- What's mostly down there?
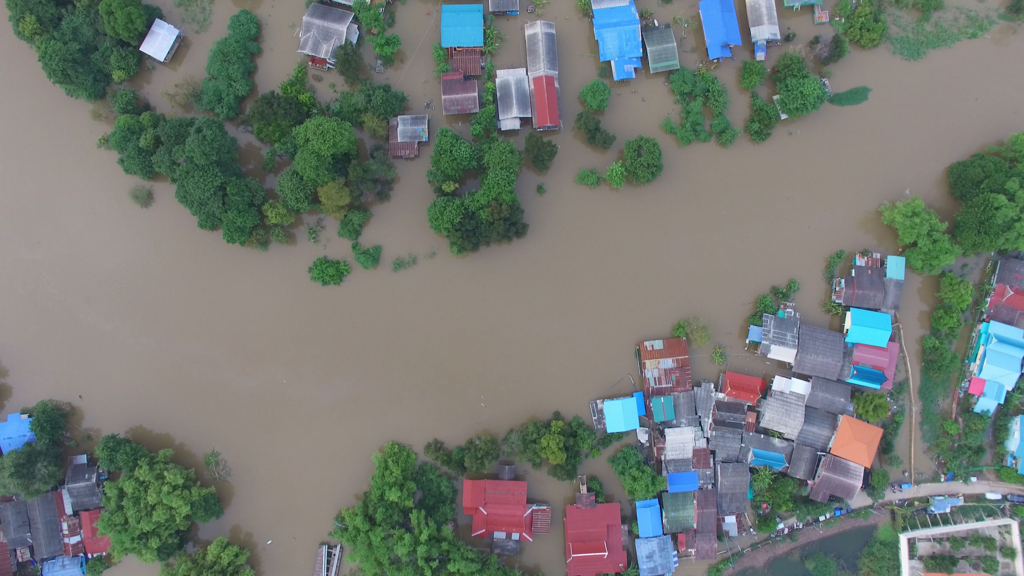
water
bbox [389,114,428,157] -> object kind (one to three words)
house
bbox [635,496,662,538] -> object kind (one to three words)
house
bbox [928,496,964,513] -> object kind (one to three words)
shed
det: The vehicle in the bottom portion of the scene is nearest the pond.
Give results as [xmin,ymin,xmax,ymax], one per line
[834,506,854,520]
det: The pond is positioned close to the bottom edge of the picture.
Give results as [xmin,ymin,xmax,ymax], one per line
[735,522,877,576]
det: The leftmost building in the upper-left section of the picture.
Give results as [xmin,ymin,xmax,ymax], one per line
[140,22,188,66]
